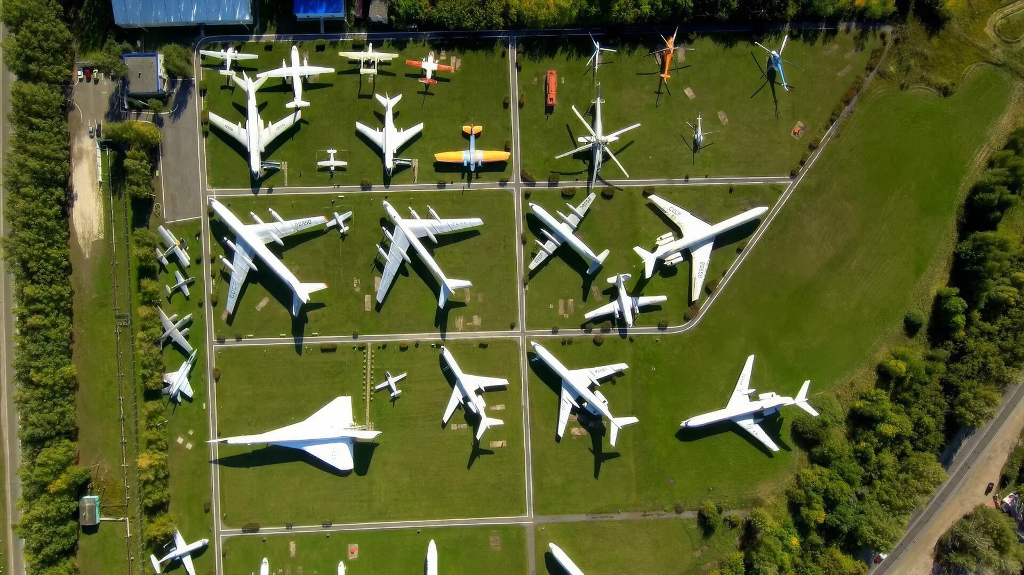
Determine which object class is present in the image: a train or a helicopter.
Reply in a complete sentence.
The one in the frame is a helicopter.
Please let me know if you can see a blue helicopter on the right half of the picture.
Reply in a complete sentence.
Yes, a blue helicopter appears on the right half of the picture.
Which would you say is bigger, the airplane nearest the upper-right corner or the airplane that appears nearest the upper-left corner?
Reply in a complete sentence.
The larger object is the airplane nearest the upper-right corner, with the airplane that appears nearest the upper-left corner being the smaller of the pair.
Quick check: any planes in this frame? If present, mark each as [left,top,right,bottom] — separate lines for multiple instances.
[531,341,639,448]
[339,44,399,76]
[207,394,379,470]
[153,521,209,575]
[434,124,510,171]
[529,193,610,274]
[201,48,259,76]
[151,306,193,352]
[160,350,197,402]
[680,356,818,452]
[325,212,352,234]
[165,271,196,297]
[210,198,326,321]
[585,273,667,327]
[207,69,299,179]
[317,148,347,171]
[371,201,485,309]
[338,561,345,575]
[549,543,583,575]
[157,225,189,267]
[257,46,335,106]
[356,89,423,175]
[425,539,439,575]
[407,52,453,84]
[374,371,407,396]
[632,195,768,302]
[251,557,279,575]
[442,346,509,440]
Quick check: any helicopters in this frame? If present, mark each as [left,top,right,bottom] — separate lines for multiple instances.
[555,82,640,186]
[687,115,718,154]
[587,32,617,72]
[643,27,694,85]
[755,35,803,90]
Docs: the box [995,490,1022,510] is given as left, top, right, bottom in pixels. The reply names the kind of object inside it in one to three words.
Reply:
house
